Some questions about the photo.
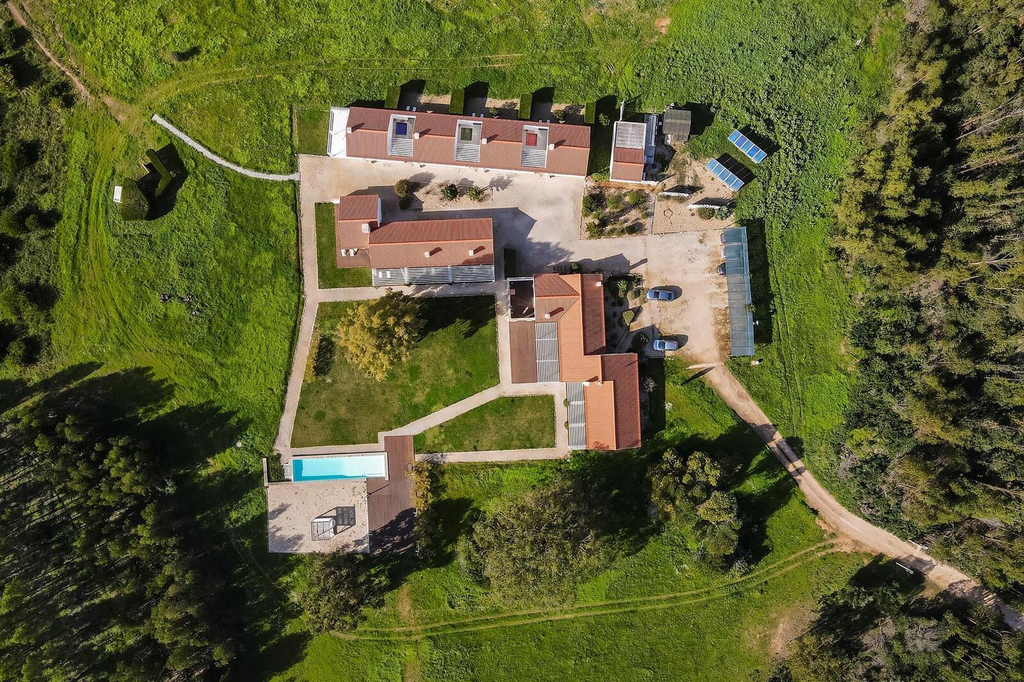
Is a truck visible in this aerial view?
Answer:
No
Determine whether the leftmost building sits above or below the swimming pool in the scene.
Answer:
below it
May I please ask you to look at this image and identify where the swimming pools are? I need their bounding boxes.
[290,452,390,483]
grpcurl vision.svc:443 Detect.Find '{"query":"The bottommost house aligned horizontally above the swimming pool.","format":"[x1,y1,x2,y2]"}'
[338,194,494,270]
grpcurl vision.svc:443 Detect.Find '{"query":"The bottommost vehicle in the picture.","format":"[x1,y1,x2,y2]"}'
[655,339,679,351]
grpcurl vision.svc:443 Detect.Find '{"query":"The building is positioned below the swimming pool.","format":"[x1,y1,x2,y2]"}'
[267,481,370,554]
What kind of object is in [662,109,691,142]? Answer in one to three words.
shed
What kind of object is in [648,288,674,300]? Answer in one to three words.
vehicle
